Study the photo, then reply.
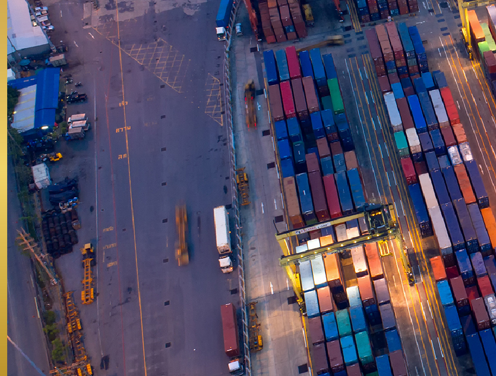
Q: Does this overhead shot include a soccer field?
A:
No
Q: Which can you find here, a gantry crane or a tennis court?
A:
gantry crane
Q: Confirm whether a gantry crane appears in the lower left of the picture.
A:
No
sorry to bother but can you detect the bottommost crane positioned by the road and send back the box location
[268,194,415,318]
